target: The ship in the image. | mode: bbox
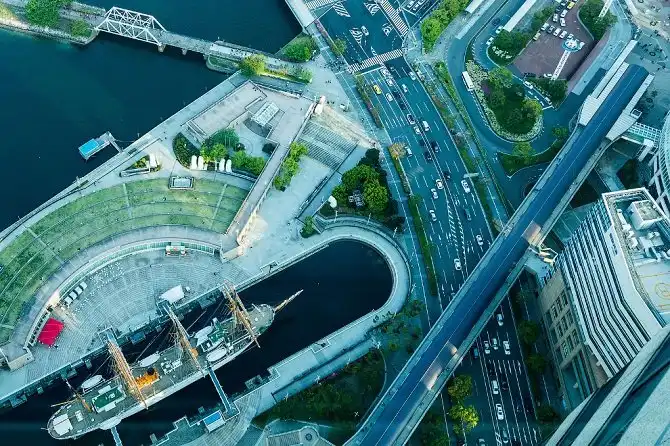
[27,267,302,441]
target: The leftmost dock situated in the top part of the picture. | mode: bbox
[79,131,123,164]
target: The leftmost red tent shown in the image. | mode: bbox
[38,318,66,347]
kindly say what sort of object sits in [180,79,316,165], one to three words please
building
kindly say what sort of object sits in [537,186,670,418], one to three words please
building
